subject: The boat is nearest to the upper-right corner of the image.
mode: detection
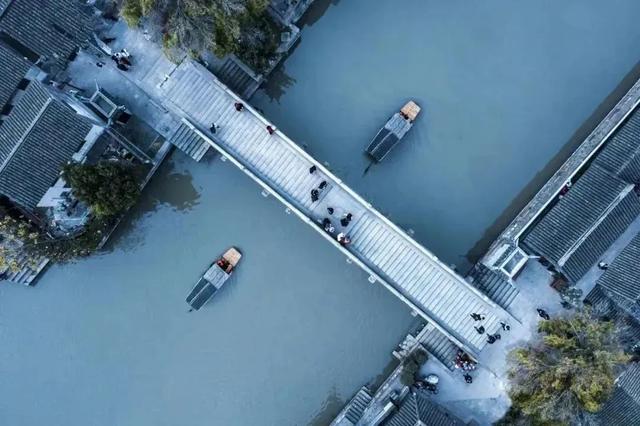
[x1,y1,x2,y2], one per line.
[361,98,422,166]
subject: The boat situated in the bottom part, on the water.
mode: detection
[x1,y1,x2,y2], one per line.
[184,246,243,314]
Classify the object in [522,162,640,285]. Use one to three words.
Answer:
house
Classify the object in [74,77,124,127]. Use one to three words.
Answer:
building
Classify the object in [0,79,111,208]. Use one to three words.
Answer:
house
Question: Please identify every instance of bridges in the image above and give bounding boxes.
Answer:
[158,63,519,377]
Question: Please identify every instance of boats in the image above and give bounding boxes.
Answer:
[361,98,422,166]
[184,246,243,314]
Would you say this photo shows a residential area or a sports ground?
residential area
